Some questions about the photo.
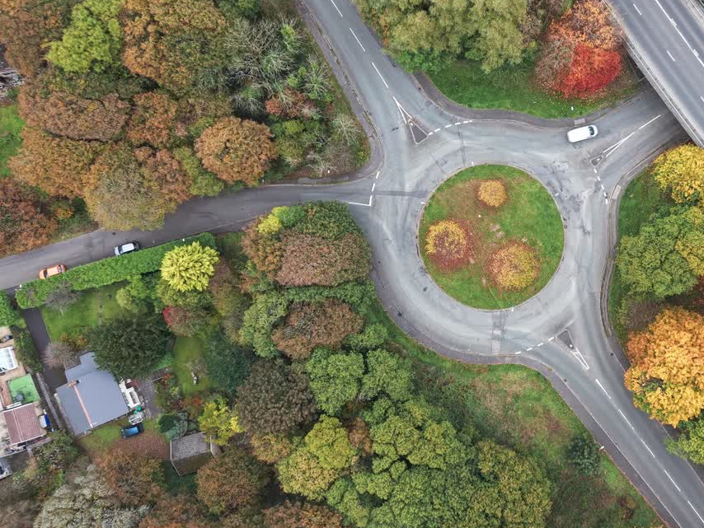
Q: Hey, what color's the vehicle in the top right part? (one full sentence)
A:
The vehicle in the top right part is white.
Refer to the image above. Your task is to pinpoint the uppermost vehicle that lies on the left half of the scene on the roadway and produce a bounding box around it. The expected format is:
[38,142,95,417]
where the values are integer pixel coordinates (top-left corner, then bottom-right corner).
[113,240,141,256]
